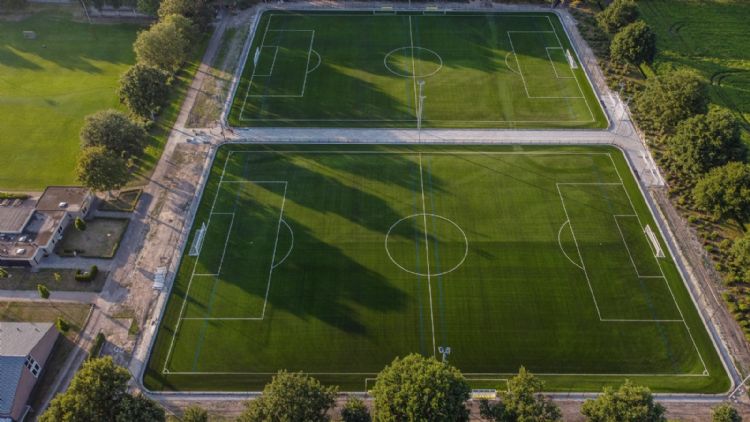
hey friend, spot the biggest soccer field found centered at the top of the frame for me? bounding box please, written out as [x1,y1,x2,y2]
[224,8,609,130]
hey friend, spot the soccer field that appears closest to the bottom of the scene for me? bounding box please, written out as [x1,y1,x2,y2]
[141,142,732,397]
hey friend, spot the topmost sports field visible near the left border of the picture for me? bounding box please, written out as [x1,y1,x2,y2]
[0,14,212,187]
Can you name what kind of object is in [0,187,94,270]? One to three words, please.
building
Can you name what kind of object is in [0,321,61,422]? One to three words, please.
building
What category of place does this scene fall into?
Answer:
sports ground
